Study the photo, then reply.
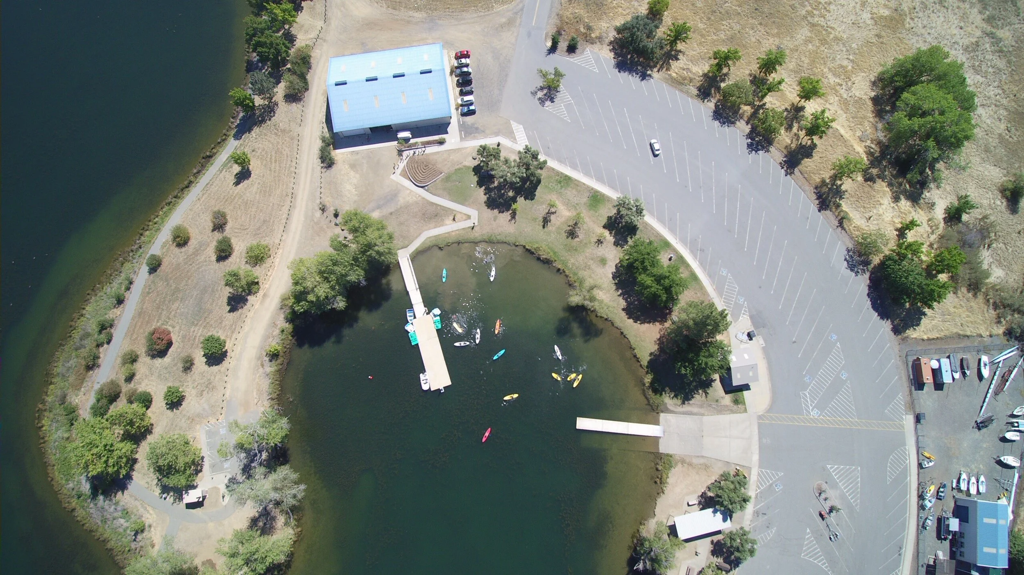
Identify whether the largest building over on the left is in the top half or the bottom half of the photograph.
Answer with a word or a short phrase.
top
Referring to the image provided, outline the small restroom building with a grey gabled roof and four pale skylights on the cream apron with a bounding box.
[725,350,761,385]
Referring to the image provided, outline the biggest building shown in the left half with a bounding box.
[328,42,452,140]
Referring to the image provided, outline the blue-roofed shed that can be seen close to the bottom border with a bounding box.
[954,498,1010,575]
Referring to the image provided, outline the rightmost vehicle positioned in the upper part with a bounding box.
[650,139,662,158]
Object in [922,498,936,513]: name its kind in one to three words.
boat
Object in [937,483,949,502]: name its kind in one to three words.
boat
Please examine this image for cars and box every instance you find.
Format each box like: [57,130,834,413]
[454,67,473,77]
[455,75,474,86]
[457,95,475,106]
[453,57,471,67]
[459,105,477,116]
[454,48,472,58]
[458,85,475,96]
[650,139,662,158]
